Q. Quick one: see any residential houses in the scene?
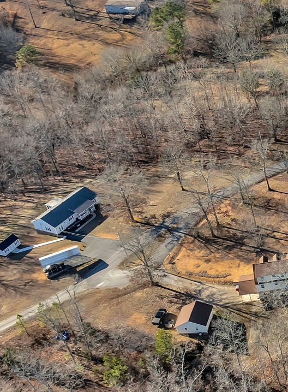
Yes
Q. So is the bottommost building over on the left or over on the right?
right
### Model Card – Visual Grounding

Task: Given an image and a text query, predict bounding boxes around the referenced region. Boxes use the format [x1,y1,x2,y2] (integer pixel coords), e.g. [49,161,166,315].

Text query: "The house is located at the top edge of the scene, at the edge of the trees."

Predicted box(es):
[104,2,146,17]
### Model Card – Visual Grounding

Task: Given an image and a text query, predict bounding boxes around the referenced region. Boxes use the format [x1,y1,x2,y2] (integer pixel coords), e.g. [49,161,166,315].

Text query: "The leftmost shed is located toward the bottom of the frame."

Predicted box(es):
[0,233,24,256]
